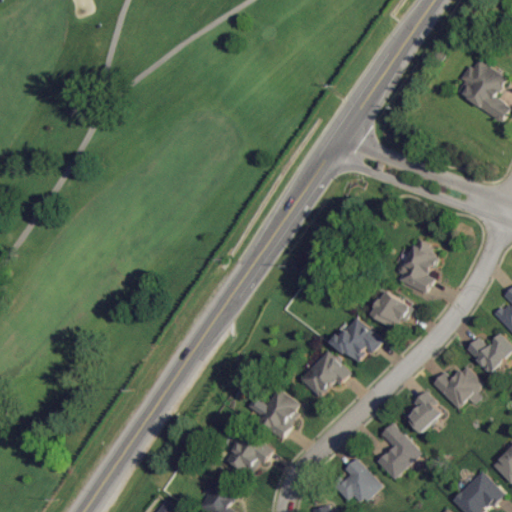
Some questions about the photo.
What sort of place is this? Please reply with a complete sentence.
The area seen from above is a golf course.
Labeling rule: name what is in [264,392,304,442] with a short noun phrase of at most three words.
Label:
house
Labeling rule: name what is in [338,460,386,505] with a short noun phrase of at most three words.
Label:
house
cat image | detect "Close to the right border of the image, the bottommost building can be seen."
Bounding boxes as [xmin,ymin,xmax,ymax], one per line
[452,472,508,512]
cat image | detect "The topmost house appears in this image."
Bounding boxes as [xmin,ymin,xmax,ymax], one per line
[458,63,512,122]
